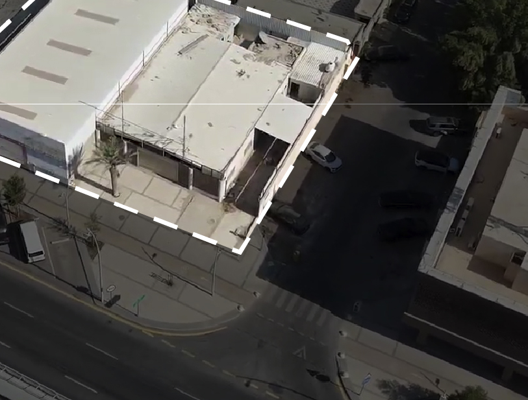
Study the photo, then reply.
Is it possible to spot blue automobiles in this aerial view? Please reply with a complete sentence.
No, there isn't any blue automobile down there.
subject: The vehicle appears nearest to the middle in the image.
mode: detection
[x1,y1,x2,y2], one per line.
[266,199,312,237]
